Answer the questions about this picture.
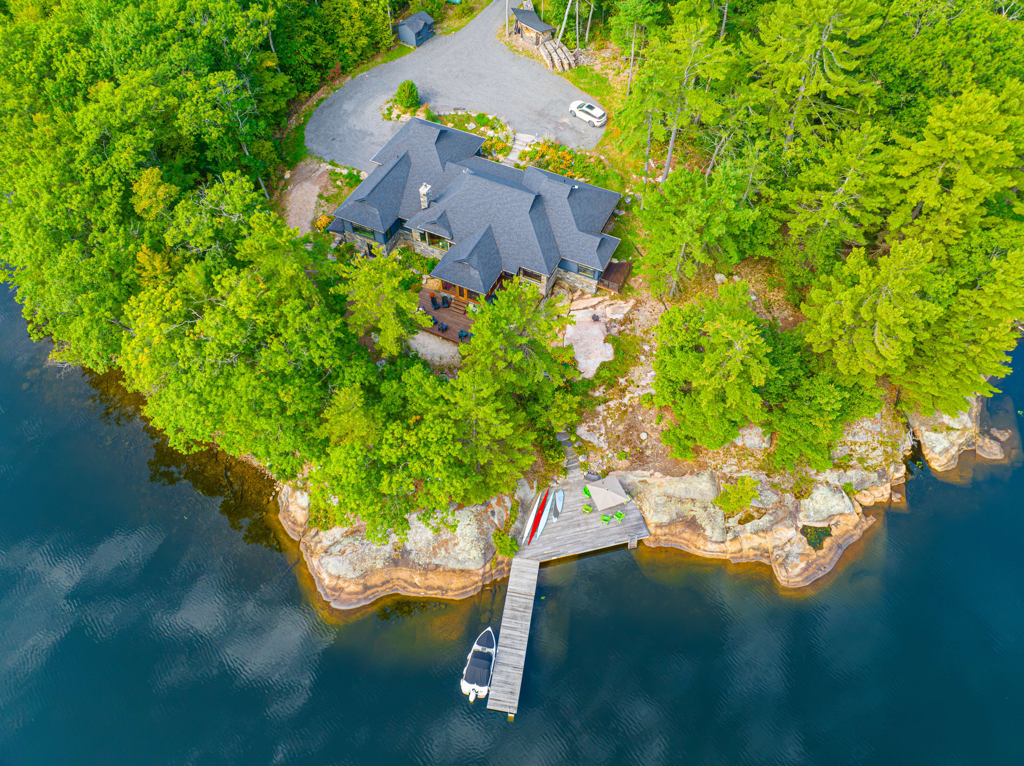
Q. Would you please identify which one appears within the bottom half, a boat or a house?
boat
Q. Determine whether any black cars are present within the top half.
No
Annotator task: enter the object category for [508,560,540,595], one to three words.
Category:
pier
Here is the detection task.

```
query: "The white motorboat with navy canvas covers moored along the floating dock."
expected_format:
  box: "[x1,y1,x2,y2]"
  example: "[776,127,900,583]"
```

[460,628,497,707]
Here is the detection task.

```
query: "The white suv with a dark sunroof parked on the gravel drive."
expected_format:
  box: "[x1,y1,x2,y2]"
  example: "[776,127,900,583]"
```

[570,100,609,124]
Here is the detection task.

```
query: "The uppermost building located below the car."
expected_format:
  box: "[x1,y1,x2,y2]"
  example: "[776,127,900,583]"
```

[324,117,624,313]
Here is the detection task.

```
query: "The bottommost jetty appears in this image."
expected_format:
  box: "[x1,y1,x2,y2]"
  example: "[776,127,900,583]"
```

[487,590,535,715]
